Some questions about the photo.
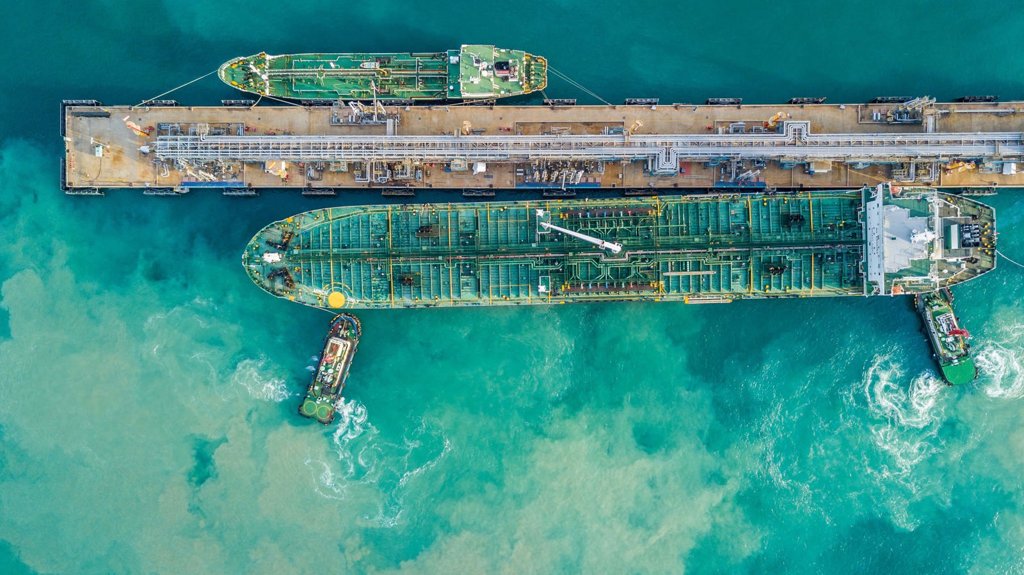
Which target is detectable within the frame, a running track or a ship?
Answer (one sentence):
This aerial view contains a ship.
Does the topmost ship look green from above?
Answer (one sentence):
Yes, the topmost ship is green.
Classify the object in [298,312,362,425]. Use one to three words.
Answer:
boat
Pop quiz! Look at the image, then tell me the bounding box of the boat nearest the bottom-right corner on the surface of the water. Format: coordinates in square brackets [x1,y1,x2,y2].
[911,288,979,387]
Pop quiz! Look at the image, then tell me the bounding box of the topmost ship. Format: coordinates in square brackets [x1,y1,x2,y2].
[216,43,547,102]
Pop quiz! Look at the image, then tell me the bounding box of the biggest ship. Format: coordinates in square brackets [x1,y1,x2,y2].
[241,184,1007,309]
